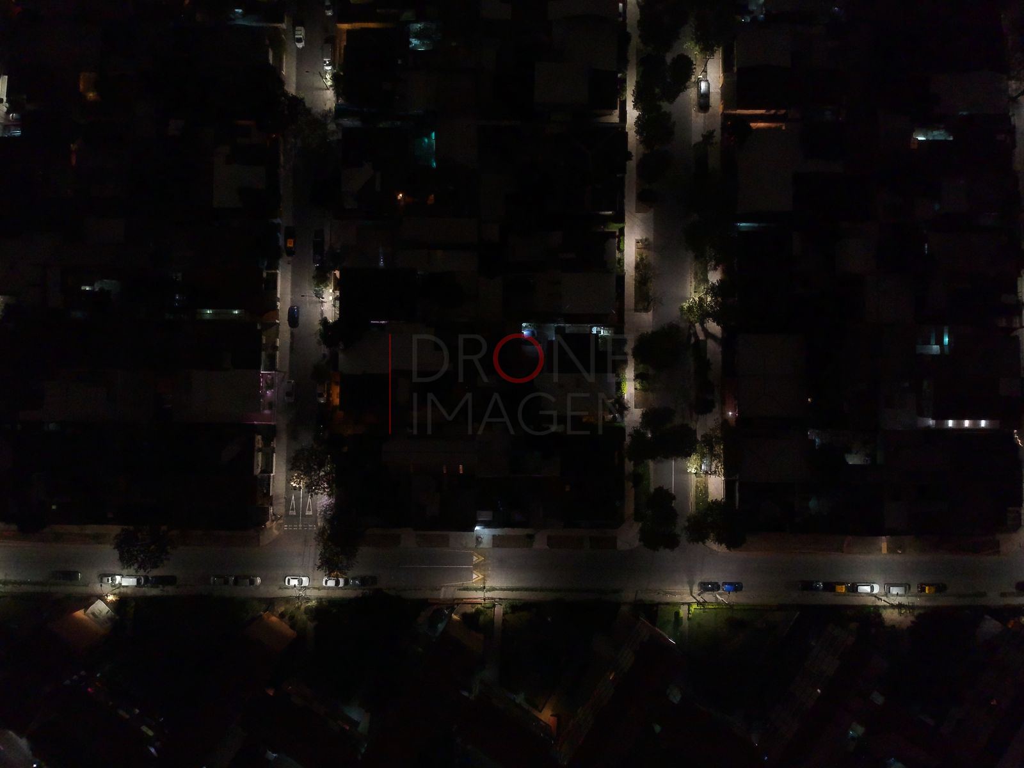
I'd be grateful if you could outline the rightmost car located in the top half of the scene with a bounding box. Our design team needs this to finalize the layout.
[698,79,712,108]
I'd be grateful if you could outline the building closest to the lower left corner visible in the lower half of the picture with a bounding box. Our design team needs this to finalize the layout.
[0,605,112,743]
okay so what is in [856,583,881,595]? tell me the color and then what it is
white vehicle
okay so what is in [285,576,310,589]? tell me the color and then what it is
white vehicle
